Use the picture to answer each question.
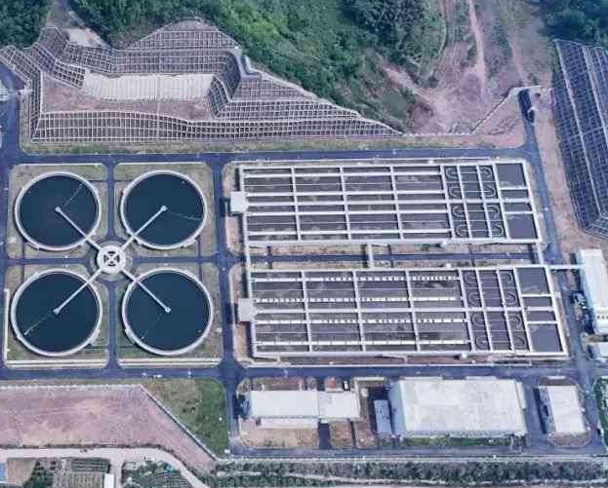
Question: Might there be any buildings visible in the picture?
Yes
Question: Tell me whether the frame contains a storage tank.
Yes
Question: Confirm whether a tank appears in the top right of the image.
No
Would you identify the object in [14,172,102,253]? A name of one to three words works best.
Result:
storage tank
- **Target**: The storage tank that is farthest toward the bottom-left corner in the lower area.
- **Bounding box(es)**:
[10,268,103,358]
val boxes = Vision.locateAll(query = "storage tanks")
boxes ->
[14,172,102,253]
[10,268,103,358]
[120,170,207,251]
[121,268,213,356]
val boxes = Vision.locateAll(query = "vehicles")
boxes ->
[343,382,349,391]
[152,373,163,378]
